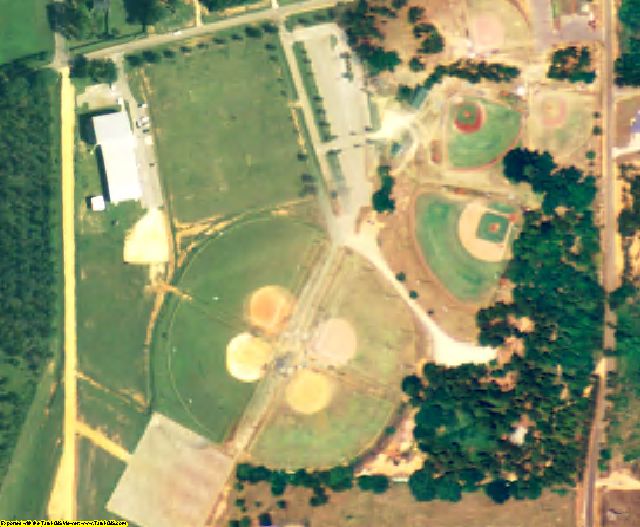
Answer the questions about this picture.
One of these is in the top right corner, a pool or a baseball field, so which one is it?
baseball field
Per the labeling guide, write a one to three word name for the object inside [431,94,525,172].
baseball field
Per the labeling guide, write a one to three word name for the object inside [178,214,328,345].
baseball field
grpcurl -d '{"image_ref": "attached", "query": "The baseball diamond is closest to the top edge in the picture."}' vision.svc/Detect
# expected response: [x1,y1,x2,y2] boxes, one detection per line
[464,0,534,52]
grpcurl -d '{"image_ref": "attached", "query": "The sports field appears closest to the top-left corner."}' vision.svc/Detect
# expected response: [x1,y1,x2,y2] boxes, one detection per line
[133,36,319,224]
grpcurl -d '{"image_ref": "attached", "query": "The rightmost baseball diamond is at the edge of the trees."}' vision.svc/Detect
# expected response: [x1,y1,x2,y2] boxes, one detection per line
[528,86,596,164]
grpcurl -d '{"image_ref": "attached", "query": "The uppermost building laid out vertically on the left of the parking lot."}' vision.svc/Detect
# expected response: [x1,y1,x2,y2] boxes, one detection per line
[92,111,142,203]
